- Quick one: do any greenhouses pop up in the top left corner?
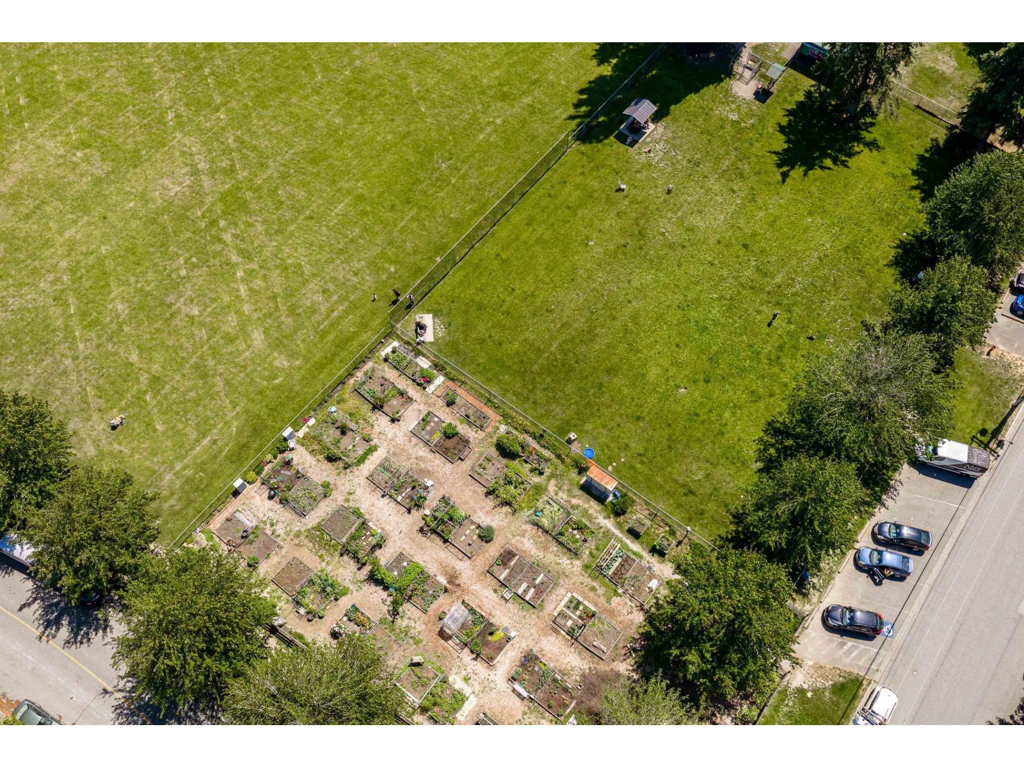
No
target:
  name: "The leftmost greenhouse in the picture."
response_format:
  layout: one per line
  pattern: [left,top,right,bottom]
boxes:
[437,602,474,643]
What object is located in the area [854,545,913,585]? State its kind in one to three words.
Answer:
car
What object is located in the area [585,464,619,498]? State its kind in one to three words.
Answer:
shed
